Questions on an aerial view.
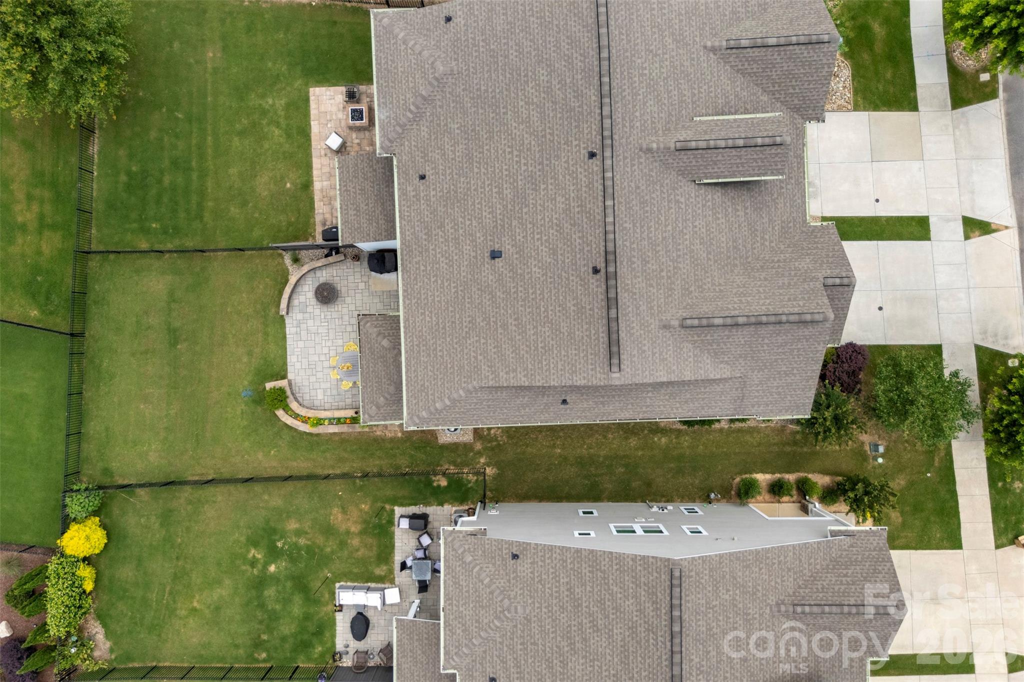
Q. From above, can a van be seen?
No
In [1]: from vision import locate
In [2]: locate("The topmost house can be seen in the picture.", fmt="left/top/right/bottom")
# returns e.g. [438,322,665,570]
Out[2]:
[336,0,859,429]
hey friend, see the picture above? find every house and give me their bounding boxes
[336,0,859,429]
[394,497,907,682]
